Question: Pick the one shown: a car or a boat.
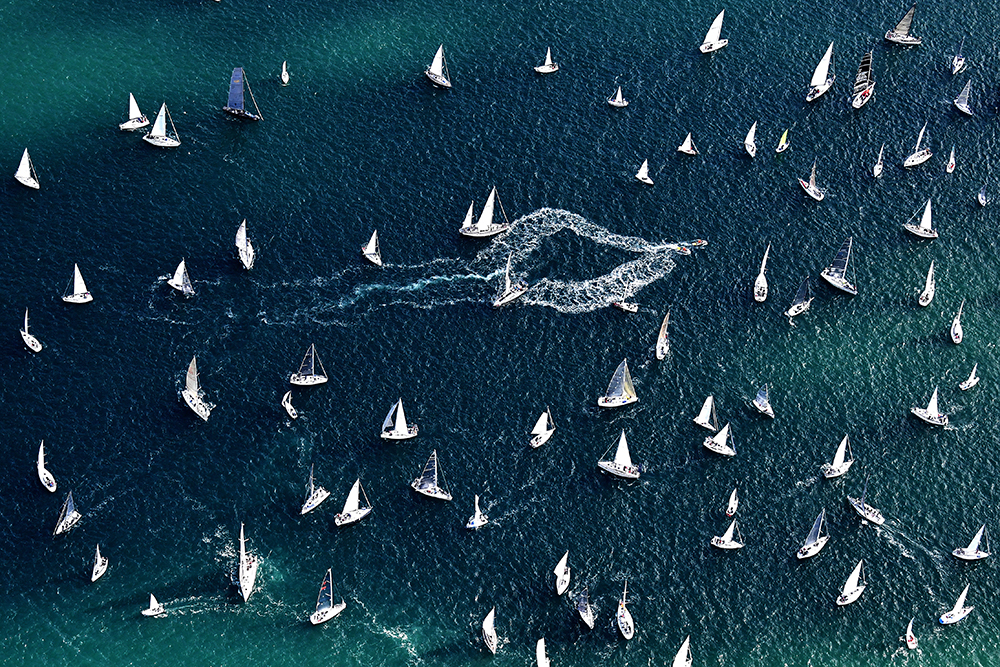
boat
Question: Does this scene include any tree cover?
No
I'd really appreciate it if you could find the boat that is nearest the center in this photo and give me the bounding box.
[493,254,534,309]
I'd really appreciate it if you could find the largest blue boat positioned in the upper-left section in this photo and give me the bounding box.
[222,65,263,123]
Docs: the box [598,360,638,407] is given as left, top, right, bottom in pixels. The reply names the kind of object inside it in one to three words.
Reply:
boat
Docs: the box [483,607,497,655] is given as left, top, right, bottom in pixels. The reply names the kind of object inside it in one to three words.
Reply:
boat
